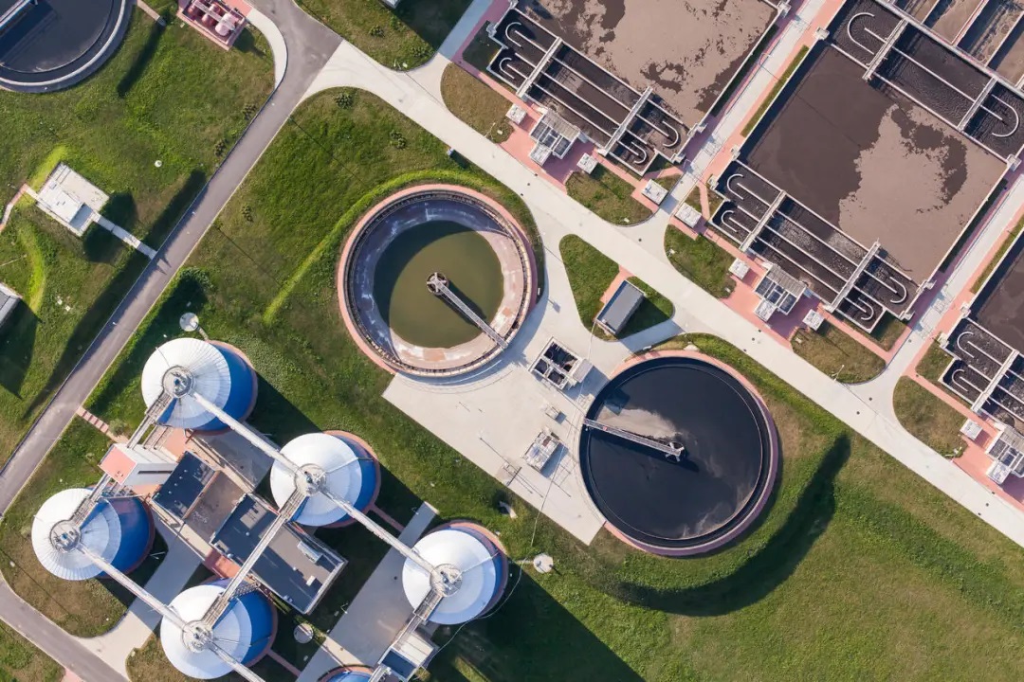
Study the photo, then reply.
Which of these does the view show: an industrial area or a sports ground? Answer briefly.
industrial area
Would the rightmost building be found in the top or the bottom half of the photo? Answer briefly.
bottom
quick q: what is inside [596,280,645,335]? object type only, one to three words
building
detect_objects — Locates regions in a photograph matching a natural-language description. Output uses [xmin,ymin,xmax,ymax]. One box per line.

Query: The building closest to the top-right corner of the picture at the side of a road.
[753,259,810,321]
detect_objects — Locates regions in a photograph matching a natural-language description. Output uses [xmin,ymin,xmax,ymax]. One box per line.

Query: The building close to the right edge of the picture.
[984,419,1024,482]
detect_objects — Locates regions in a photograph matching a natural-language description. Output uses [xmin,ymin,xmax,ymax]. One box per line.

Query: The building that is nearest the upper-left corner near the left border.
[37,162,113,238]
